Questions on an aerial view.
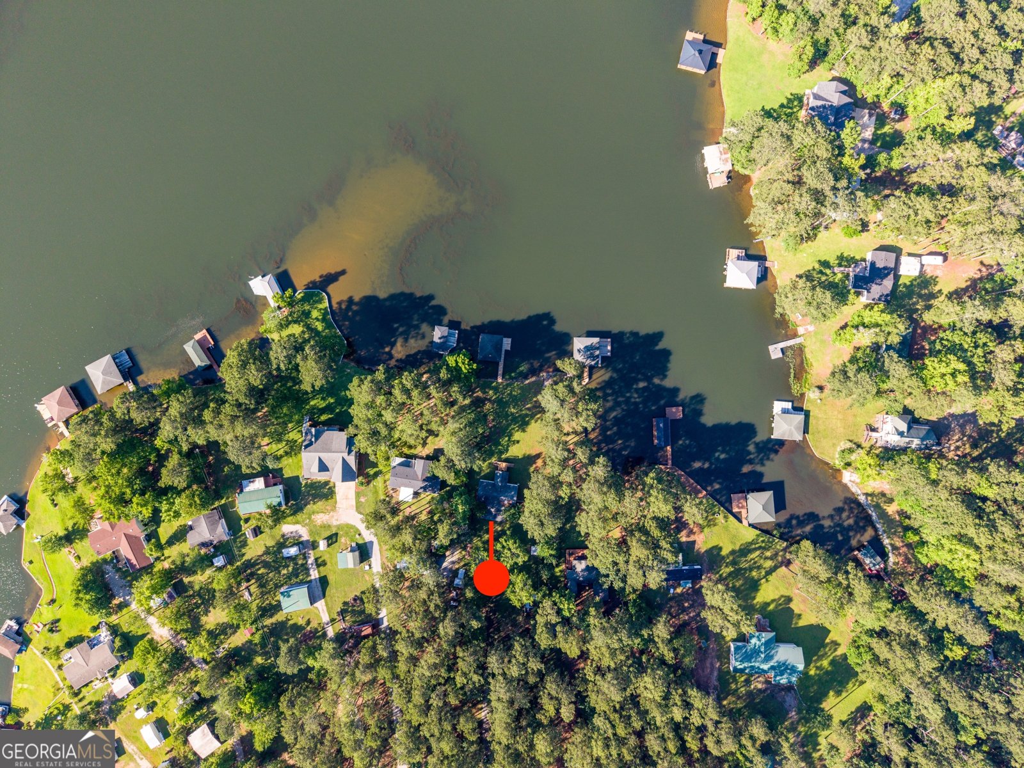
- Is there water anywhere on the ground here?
Yes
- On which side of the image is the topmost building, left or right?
right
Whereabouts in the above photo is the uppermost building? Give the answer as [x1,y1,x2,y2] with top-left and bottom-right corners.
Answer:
[676,29,724,78]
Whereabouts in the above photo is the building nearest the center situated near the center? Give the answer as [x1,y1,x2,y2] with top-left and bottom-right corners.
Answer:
[478,334,511,361]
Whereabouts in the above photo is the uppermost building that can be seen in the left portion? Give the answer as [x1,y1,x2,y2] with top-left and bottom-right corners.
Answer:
[248,274,284,309]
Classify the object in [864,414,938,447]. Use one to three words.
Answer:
house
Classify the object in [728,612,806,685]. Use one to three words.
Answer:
house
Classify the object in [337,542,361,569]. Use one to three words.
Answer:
barn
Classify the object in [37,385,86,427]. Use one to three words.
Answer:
building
